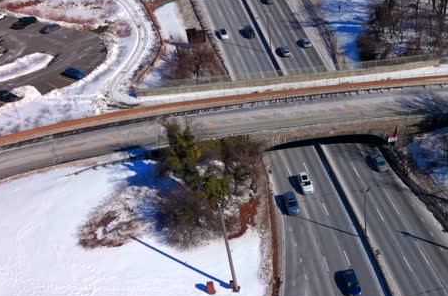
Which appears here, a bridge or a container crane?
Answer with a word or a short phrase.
bridge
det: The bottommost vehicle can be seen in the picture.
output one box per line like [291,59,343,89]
[339,268,362,296]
